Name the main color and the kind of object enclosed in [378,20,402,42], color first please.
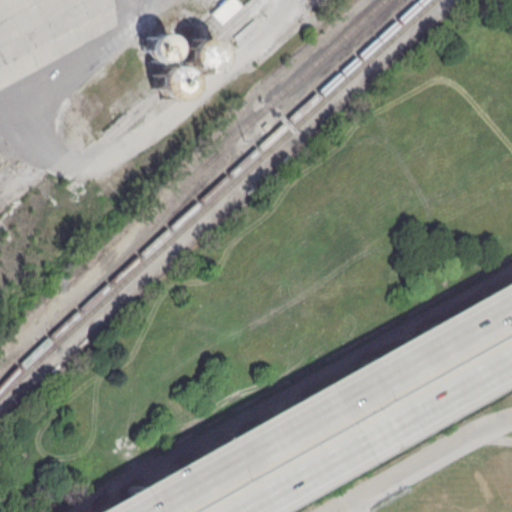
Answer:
white rail car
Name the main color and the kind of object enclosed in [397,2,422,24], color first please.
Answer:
white rail car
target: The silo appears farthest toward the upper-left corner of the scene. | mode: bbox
[140,33,188,68]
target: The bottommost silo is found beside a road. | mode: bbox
[152,66,204,102]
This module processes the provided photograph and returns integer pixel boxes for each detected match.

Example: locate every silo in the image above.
[183,38,234,74]
[152,66,204,102]
[140,33,188,68]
